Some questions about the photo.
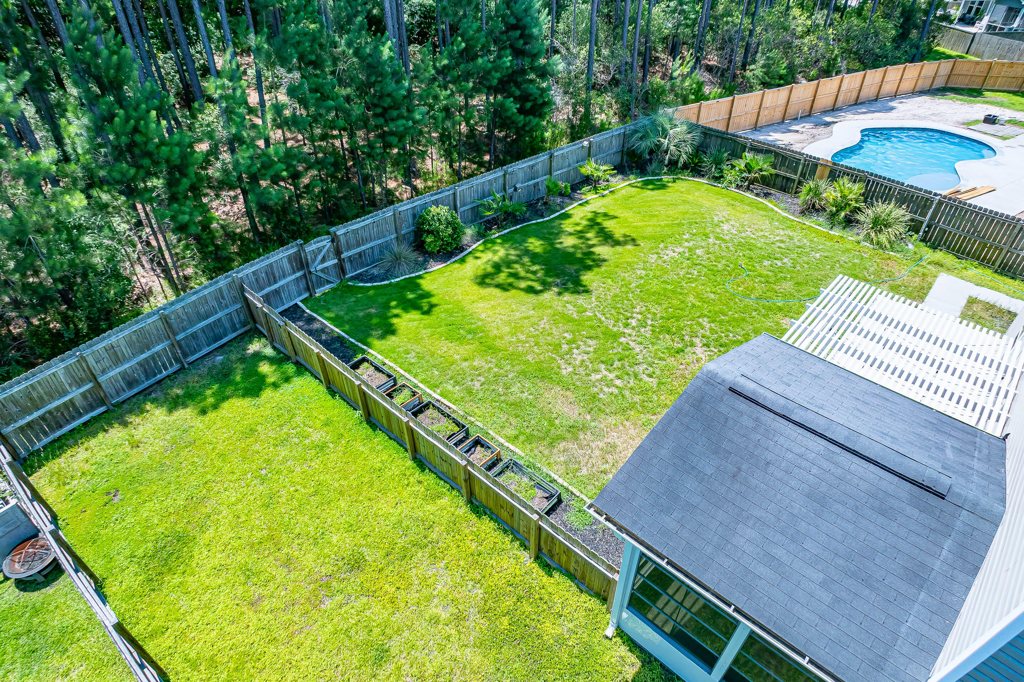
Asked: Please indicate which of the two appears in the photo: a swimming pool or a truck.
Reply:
swimming pool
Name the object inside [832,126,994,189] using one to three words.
swimming pool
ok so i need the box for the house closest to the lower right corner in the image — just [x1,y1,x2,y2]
[585,330,1024,682]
